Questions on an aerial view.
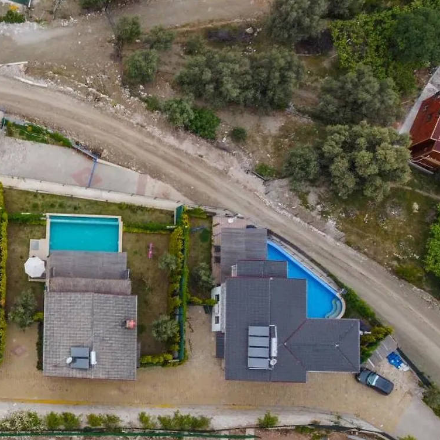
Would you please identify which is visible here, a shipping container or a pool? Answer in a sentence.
This aerial view contains a pool.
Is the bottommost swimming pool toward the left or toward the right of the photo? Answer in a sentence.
The bottommost swimming pool sits on the right side.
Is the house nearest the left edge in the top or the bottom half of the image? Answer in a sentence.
It is in the bottom half that the house nearest the left edge appears.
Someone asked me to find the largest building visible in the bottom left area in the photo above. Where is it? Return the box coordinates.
[40,278,140,381]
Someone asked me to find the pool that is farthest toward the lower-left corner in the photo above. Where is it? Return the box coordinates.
[46,212,122,255]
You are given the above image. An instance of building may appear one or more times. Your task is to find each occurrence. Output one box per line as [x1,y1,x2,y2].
[409,93,440,172]
[208,260,361,383]
[40,278,140,381]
